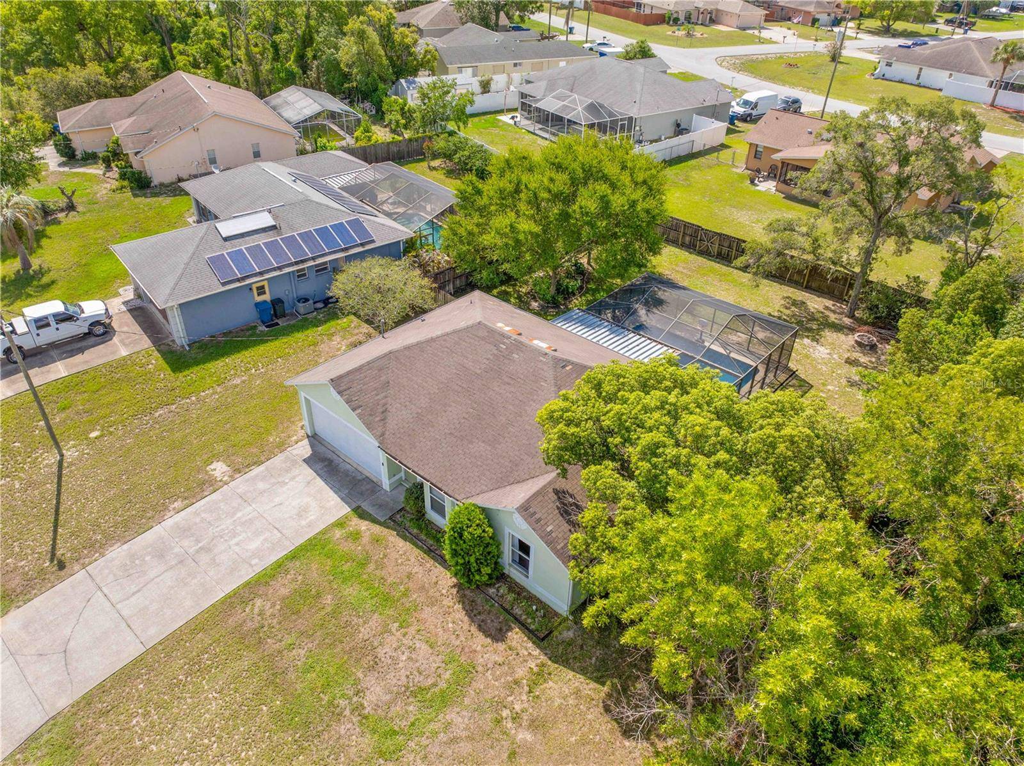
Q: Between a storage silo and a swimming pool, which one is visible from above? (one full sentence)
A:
Of the two, only a swimming pool appears.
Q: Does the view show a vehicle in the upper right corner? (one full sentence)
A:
Yes, you'll find a vehicle in the upper right corner.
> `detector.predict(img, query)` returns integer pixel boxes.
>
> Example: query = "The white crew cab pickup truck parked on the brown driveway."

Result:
[0,297,119,364]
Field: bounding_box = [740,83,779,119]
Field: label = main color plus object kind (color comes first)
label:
white van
